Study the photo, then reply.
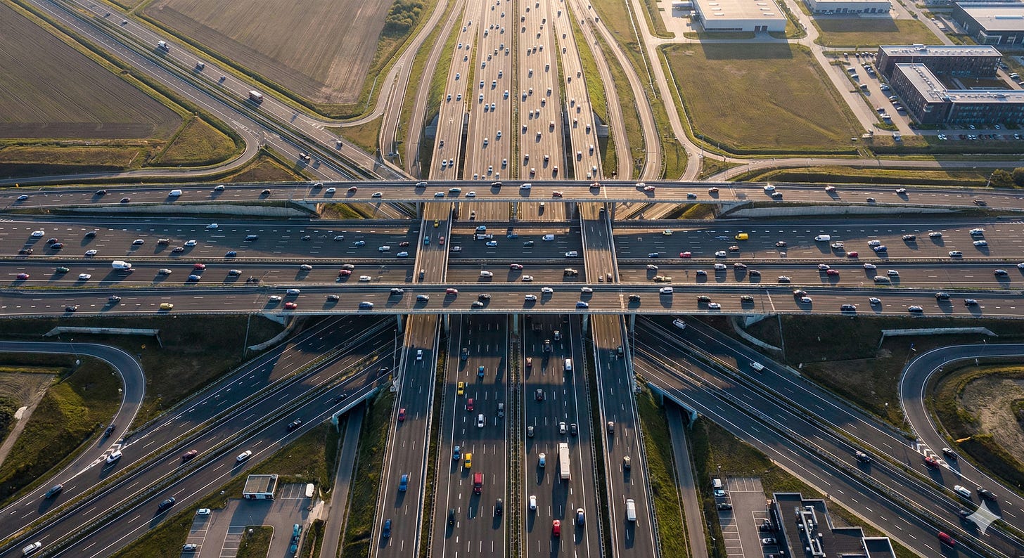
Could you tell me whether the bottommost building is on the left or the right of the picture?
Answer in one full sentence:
The bottommost building sits on the right side.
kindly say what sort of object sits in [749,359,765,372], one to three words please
vehicle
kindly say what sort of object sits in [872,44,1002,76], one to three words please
building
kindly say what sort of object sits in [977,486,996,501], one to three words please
car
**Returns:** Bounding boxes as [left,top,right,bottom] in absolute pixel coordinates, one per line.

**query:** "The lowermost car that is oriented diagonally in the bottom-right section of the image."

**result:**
[937,531,957,546]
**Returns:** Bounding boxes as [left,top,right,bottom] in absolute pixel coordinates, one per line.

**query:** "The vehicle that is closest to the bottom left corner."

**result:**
[22,541,42,556]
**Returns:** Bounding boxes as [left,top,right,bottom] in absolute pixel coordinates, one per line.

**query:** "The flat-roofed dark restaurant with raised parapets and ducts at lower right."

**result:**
[769,492,897,558]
